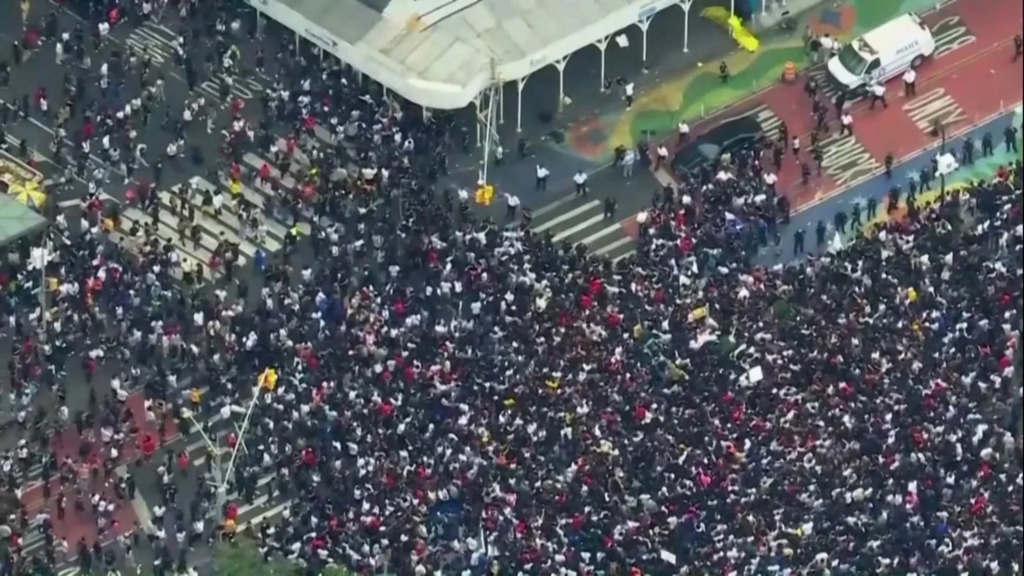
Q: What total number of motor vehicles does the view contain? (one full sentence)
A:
Looking from above, you can make out 2 motor vehicles.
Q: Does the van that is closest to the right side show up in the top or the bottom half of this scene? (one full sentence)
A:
Seen from above, the van that is closest to the right side lies in the top half of the view.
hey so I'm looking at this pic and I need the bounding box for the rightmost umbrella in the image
[700,7,766,52]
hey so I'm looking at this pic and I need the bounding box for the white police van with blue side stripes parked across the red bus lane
[831,9,939,88]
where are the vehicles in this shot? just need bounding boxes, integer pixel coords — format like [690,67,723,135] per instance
[831,9,939,88]
[669,114,769,173]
